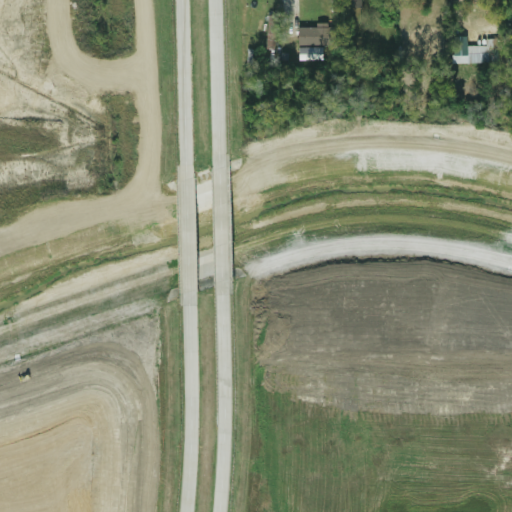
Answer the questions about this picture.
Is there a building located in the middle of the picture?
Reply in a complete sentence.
No, there's no building to be seen in the middle of the picture.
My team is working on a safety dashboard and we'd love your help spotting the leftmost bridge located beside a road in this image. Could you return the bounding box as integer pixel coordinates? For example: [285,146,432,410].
[178,166,199,306]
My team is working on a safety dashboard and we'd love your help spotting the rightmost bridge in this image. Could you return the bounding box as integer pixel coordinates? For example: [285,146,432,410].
[212,154,234,295]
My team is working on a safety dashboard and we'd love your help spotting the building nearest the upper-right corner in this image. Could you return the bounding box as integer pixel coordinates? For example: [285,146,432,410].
[453,36,498,64]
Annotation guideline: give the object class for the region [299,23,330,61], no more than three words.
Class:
house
